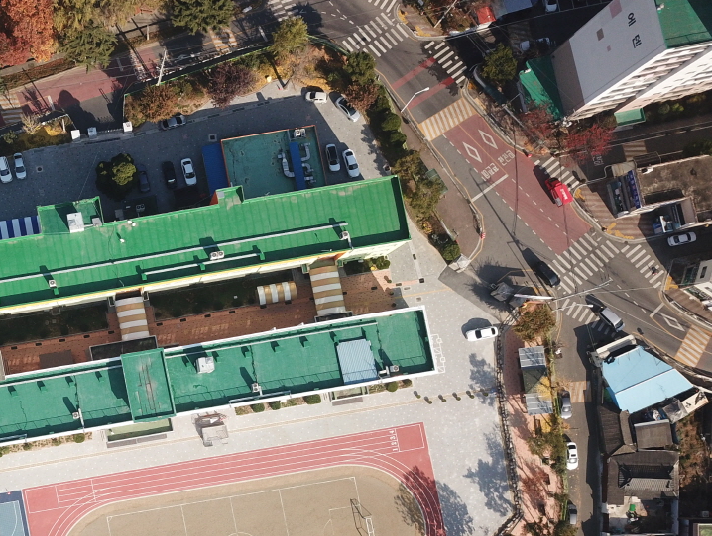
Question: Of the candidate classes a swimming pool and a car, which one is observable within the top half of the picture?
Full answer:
You can see a car within the top half of the picture.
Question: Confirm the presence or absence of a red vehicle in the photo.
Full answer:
Yes, a red vehicle can be made out from above.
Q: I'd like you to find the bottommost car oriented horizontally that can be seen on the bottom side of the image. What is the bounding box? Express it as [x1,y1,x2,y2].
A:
[467,327,494,340]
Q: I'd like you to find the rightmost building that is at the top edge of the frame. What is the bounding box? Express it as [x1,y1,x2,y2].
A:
[553,0,712,122]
